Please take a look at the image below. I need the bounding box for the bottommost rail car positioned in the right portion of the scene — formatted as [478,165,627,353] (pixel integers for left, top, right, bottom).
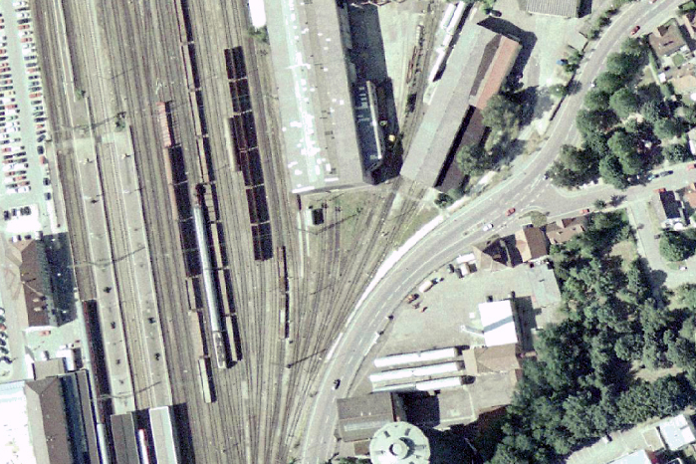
[428,51,446,81]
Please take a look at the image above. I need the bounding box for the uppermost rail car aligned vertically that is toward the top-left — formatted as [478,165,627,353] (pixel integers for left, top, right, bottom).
[175,0,191,43]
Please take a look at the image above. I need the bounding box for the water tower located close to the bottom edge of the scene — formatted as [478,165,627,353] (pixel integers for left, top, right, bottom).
[370,419,460,464]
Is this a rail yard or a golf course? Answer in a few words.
rail yard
